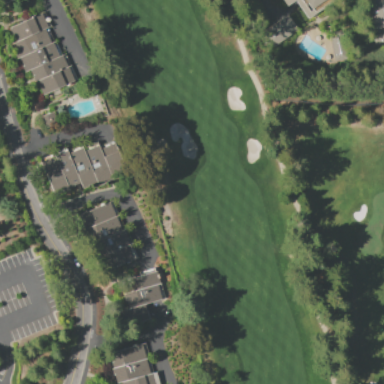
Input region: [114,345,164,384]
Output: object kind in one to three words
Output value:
house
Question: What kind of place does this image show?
golf course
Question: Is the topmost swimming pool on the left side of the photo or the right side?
right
